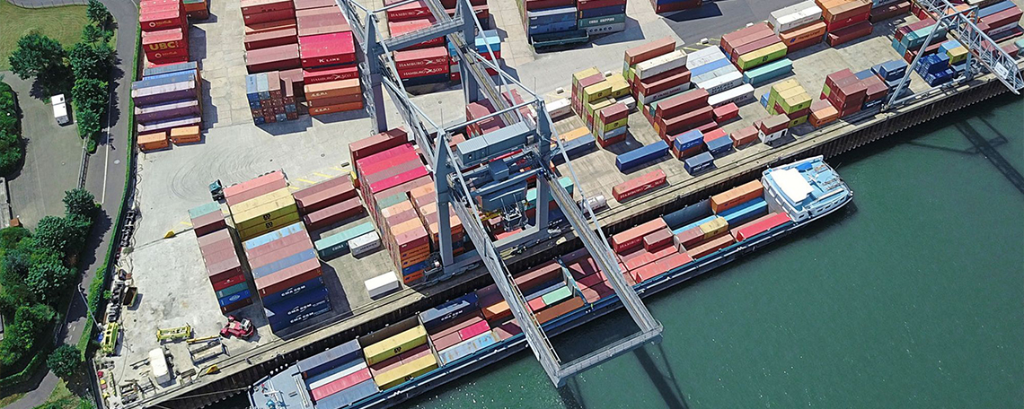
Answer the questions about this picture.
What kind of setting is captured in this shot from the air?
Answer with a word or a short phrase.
port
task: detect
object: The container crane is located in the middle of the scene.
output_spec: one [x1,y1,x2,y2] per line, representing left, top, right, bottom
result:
[352,0,666,387]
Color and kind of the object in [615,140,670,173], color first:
blue shipping container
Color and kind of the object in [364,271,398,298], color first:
white shipping container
